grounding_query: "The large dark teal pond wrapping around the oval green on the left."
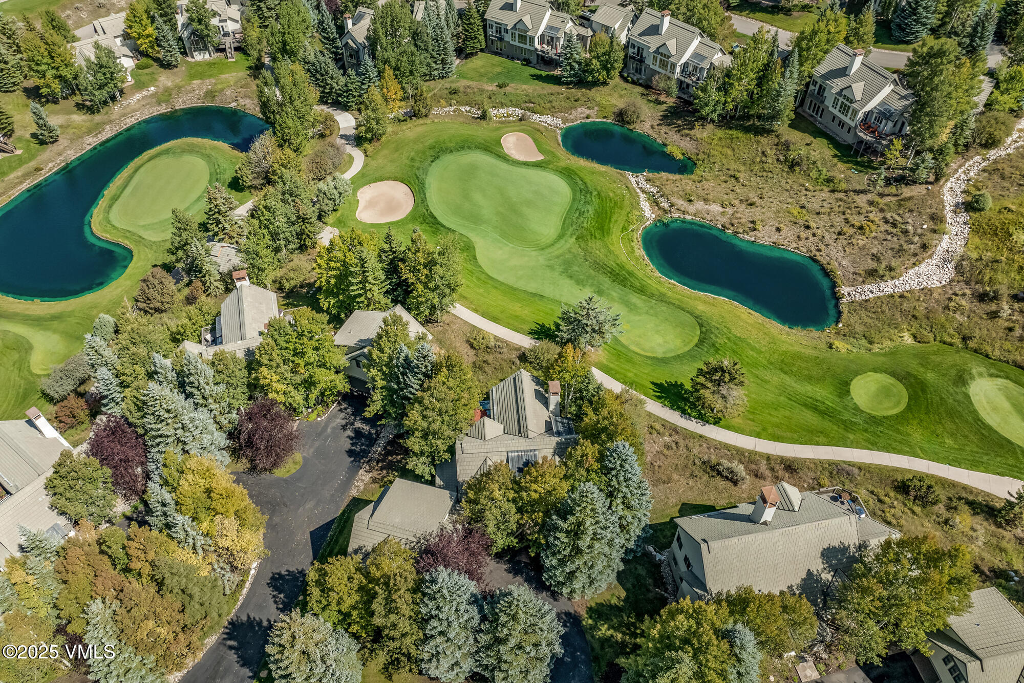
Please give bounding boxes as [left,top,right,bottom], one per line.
[0,105,272,302]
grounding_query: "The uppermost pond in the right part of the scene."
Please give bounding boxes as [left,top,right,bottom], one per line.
[560,121,696,175]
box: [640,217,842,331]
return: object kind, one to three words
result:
pond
